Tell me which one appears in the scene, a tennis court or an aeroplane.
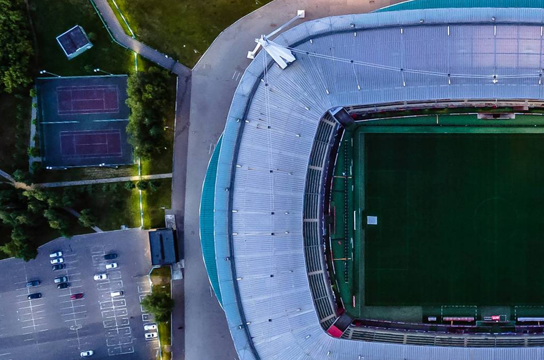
tennis court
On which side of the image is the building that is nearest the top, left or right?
left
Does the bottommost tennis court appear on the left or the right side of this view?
left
